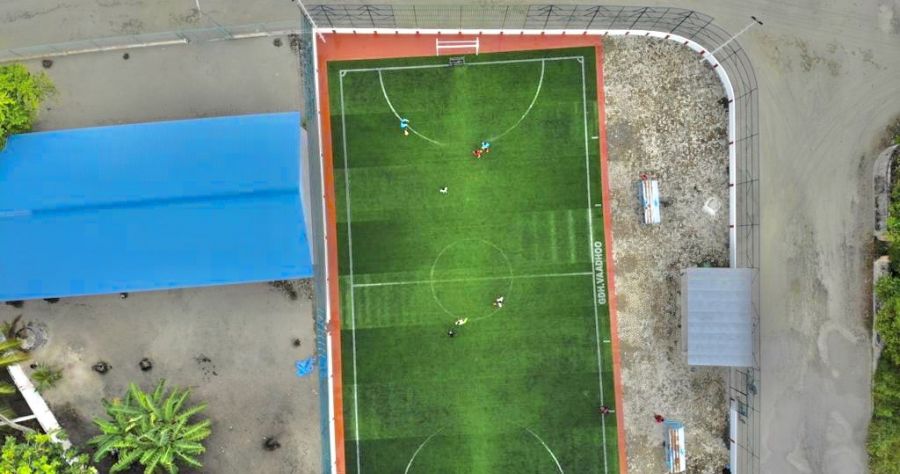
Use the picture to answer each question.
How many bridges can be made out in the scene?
0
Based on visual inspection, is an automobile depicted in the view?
No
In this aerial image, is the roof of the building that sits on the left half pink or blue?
blue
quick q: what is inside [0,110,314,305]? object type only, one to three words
building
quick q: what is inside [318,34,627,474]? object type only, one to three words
soccer field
